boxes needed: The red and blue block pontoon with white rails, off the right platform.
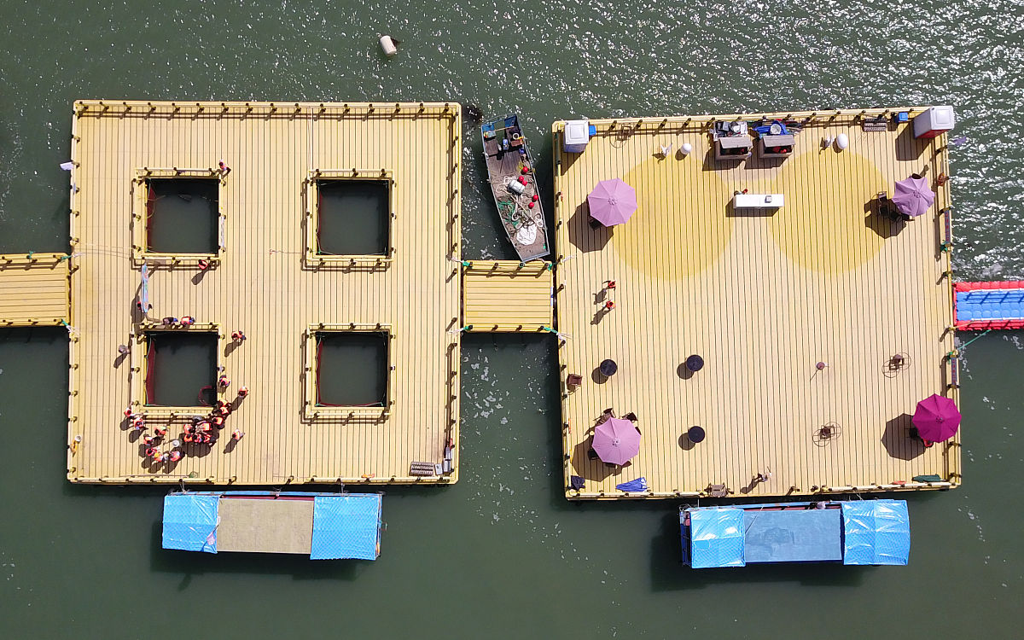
[955,281,1024,330]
